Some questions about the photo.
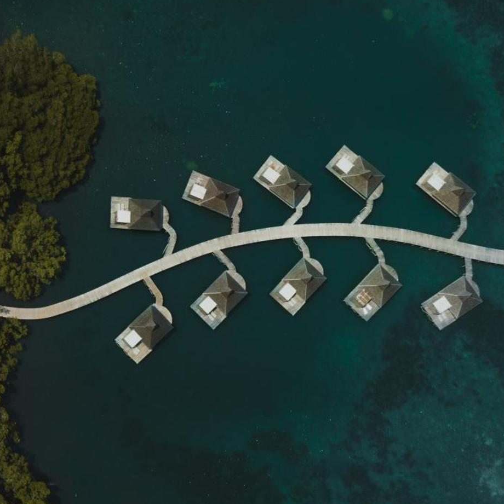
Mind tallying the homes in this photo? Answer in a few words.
10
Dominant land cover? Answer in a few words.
water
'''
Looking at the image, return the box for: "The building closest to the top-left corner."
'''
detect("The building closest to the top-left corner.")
[109,197,171,231]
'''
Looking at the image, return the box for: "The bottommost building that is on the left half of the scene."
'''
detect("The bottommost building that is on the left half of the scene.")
[114,303,174,363]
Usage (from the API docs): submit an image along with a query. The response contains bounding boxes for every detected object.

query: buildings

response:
[189,270,248,329]
[114,303,174,363]
[109,197,171,231]
[413,162,477,218]
[251,154,312,210]
[181,170,242,218]
[323,144,386,201]
[419,276,484,330]
[269,256,327,315]
[342,262,402,321]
